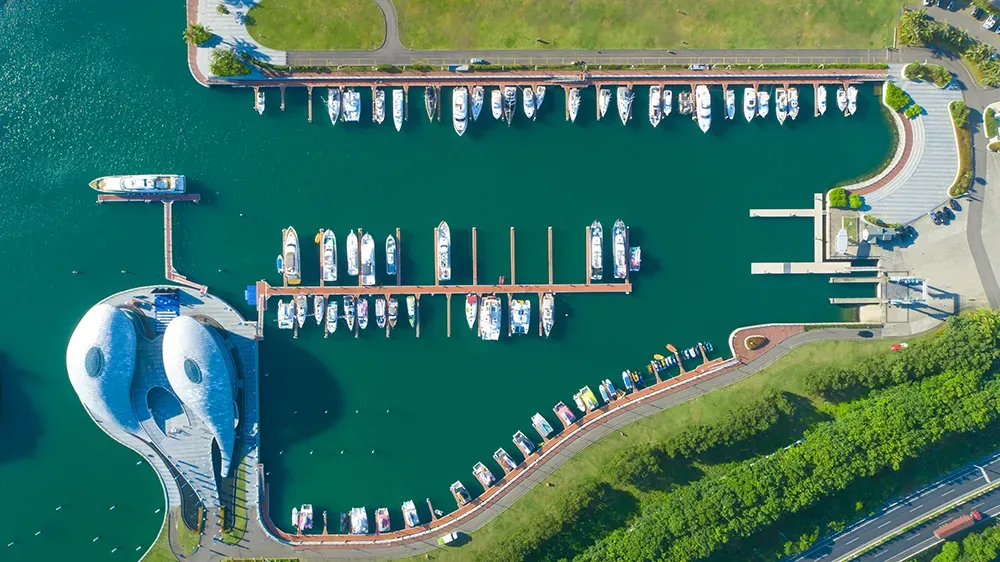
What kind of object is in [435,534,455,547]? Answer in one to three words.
vehicle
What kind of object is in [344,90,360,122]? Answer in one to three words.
boat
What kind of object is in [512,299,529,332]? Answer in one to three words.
boat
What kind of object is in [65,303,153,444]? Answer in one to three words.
building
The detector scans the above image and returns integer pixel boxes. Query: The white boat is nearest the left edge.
[87,175,188,194]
